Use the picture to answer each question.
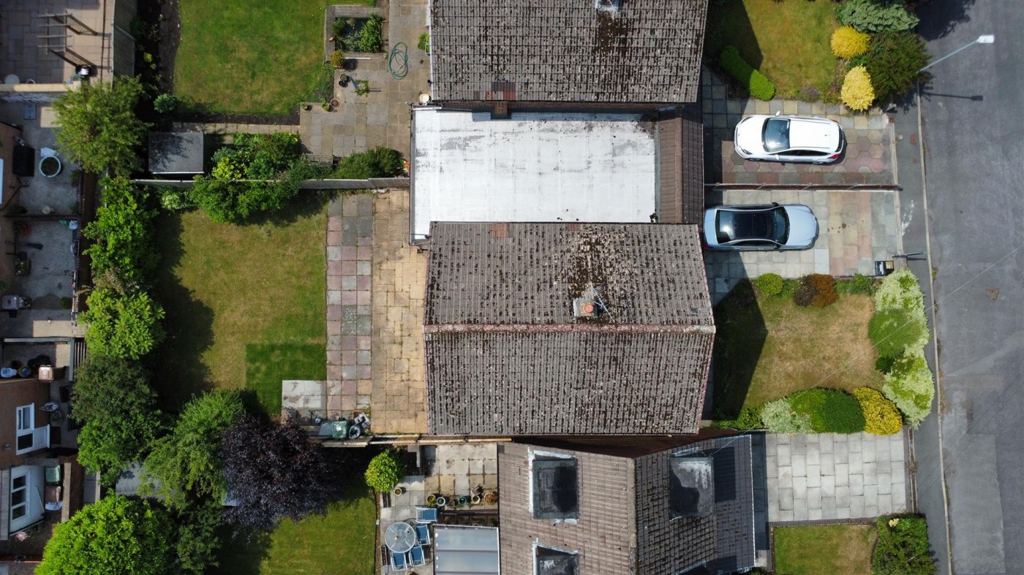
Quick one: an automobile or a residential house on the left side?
residential house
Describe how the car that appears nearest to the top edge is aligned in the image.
from side to side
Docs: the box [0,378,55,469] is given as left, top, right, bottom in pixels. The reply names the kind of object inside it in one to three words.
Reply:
house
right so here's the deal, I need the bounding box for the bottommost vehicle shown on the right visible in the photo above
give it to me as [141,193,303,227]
[702,198,817,255]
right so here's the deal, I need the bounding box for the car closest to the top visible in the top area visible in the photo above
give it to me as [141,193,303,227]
[733,109,845,166]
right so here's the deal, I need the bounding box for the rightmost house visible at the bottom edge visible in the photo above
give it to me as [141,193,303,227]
[495,427,754,575]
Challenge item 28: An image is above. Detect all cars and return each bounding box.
[702,198,817,255]
[733,109,845,166]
